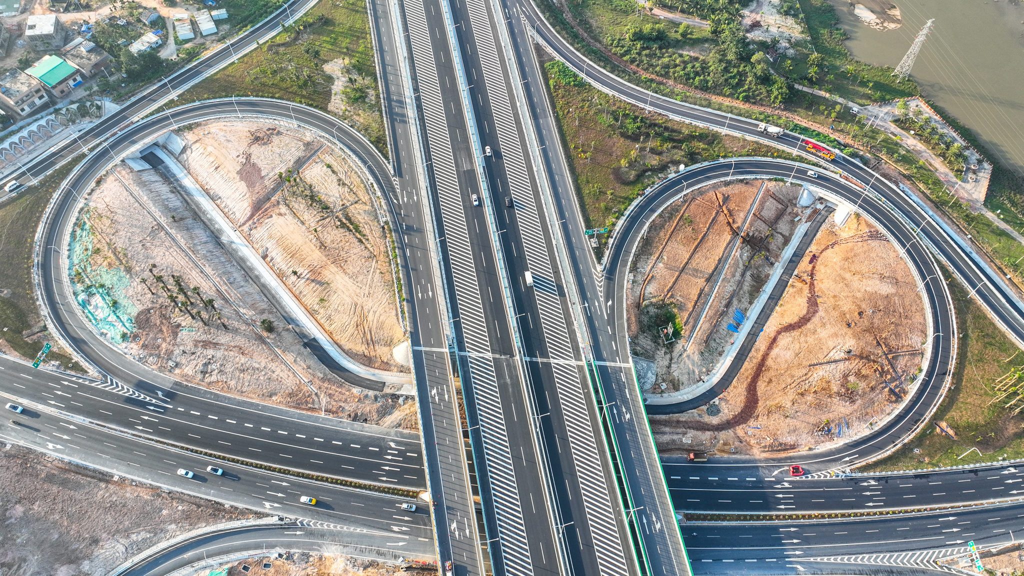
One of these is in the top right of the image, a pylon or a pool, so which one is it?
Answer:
pylon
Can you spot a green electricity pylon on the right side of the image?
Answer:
No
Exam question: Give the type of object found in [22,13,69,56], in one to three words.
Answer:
building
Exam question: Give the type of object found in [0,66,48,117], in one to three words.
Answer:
house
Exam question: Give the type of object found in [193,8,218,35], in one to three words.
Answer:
shed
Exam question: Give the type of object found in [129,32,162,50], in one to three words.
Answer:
shed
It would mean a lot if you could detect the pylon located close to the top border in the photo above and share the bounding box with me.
[890,19,934,83]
